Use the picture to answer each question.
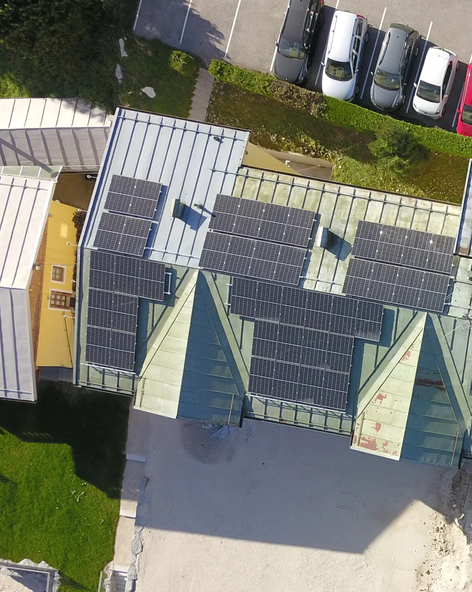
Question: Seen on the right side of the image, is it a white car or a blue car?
white car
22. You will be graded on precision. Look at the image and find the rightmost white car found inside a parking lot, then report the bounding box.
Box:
[410,36,460,120]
